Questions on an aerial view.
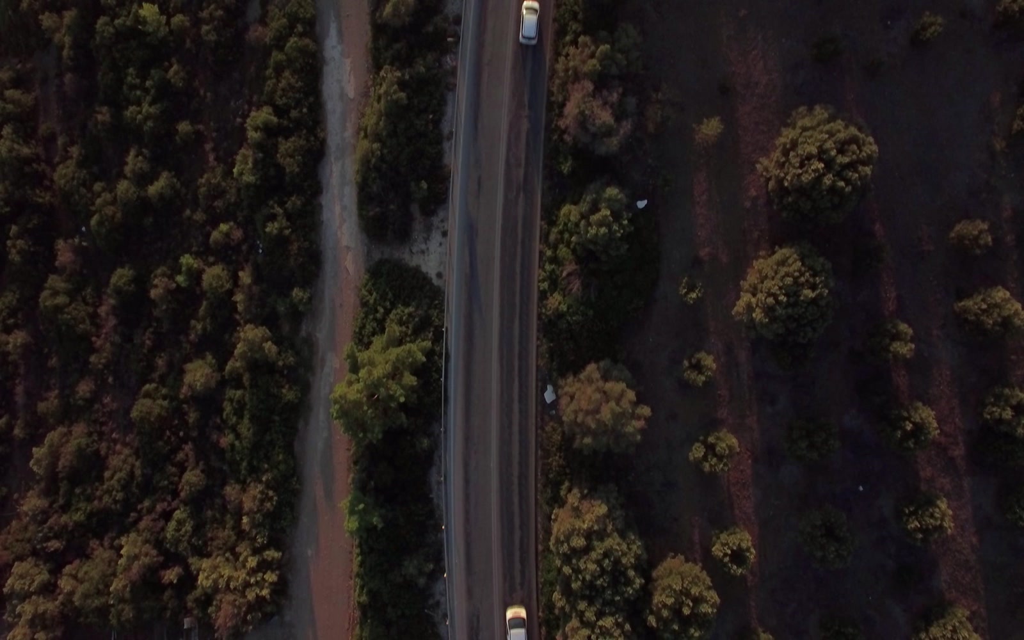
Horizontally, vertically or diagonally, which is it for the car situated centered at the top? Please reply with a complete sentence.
Seen from above, the car situated centered at the top lies vertically.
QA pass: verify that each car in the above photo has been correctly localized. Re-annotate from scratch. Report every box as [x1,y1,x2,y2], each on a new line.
[505,603,526,640]
[518,2,540,48]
